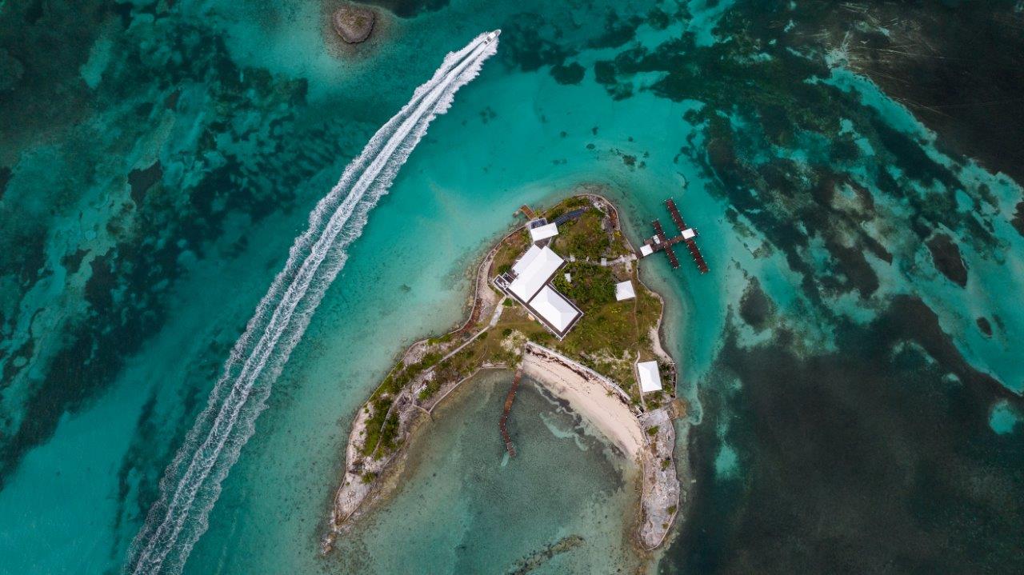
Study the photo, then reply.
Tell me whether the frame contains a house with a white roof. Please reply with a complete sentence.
Yes, a house with a white roof can be made out from above.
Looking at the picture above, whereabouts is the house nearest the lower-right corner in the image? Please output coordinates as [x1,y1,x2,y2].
[637,361,662,392]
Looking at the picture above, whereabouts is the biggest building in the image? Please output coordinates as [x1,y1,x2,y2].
[493,237,584,341]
